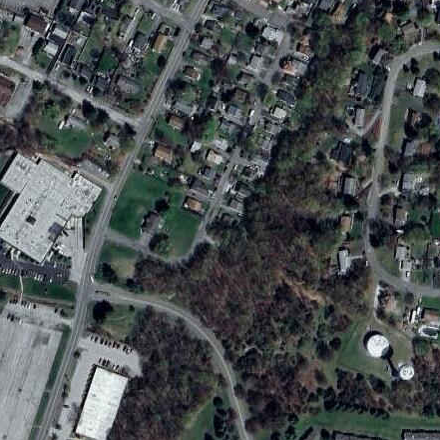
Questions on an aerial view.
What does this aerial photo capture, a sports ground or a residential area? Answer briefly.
residential area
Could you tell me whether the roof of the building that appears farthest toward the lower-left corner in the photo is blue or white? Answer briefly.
white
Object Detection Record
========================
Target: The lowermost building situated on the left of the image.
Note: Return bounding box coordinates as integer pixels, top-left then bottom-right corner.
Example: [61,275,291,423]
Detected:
[74,365,128,440]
